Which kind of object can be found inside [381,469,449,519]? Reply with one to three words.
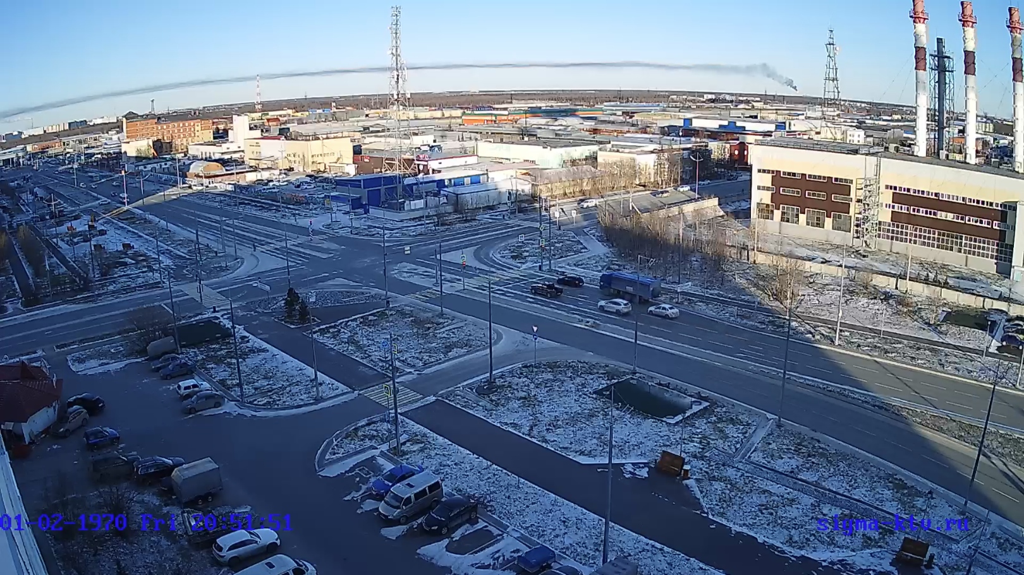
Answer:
vehicle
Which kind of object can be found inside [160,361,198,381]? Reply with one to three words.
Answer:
car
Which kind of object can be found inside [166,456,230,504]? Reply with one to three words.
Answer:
trailer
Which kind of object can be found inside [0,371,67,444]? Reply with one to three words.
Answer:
building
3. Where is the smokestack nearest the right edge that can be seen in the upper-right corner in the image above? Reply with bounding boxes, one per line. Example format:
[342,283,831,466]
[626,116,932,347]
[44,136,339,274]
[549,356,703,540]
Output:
[1005,6,1023,170]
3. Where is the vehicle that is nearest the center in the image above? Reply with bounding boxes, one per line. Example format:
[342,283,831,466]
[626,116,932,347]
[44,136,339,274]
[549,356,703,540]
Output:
[530,281,562,297]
